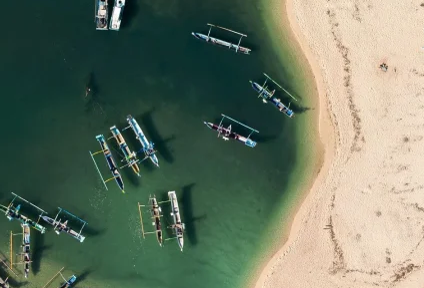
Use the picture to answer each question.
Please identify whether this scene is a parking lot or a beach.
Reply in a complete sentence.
What you see here is a beach.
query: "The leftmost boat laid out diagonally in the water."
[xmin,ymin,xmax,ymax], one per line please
[0,193,47,235]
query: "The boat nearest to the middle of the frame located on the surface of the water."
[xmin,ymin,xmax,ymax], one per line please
[204,114,259,148]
